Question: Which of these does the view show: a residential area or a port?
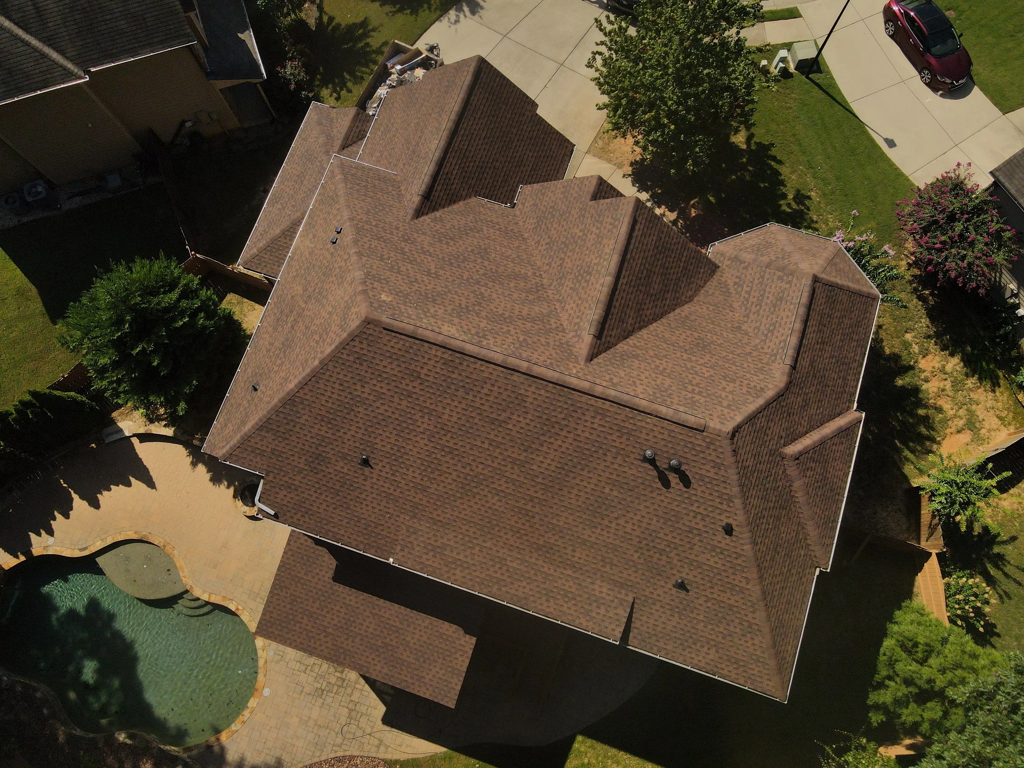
residential area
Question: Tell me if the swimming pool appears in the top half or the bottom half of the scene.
bottom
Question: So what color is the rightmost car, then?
black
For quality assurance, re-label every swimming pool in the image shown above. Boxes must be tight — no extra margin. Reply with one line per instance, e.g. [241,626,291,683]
[0,531,267,757]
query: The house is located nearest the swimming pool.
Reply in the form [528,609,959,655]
[199,54,882,708]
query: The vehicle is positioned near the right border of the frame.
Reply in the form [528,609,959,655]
[880,0,974,93]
